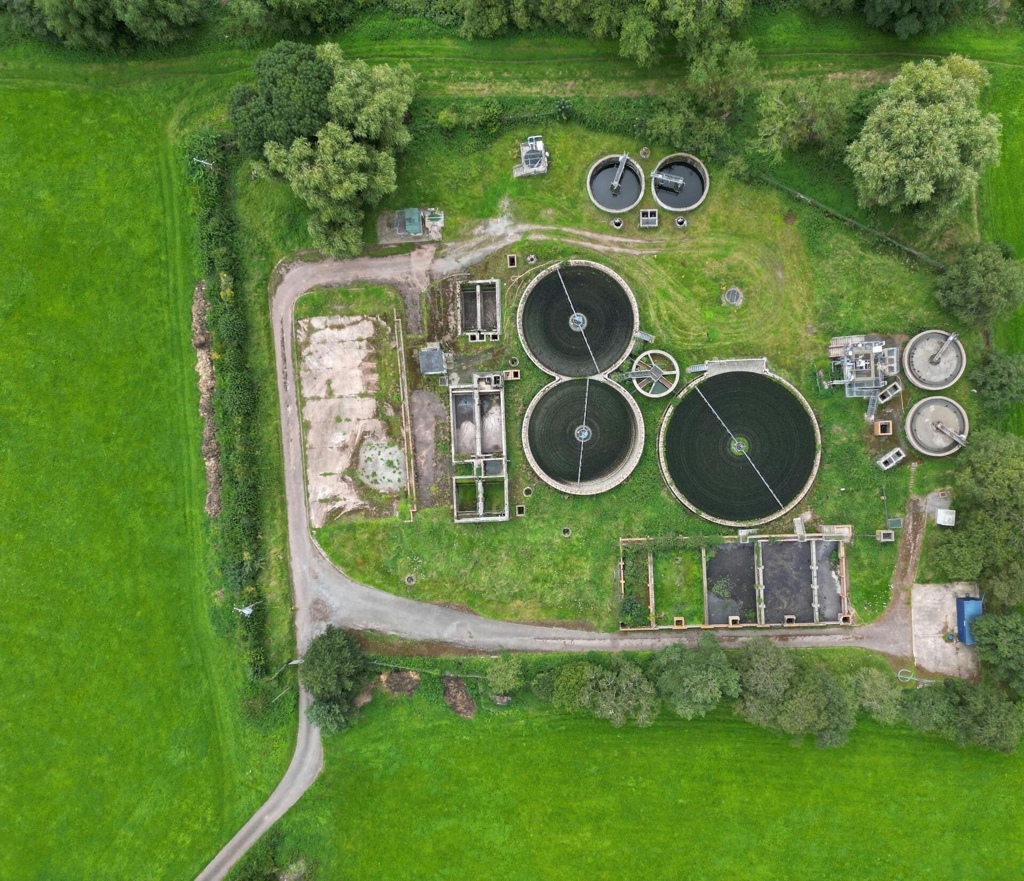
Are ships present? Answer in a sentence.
No, the picture doesn't show any ship.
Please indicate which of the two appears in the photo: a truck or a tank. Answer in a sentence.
There is a tank in the scene.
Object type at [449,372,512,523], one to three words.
storage tank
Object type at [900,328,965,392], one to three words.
storage tank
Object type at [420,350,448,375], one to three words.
building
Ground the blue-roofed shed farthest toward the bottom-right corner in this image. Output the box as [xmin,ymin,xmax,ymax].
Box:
[951,593,986,644]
